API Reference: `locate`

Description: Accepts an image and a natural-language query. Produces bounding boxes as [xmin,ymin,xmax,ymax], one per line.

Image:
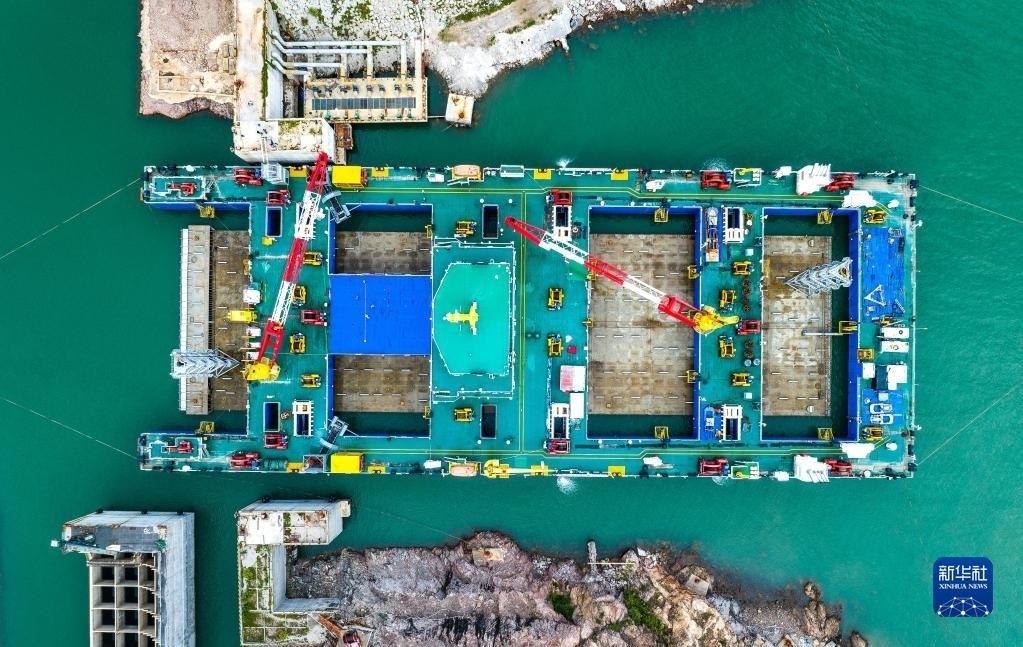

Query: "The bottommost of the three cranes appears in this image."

[483,455,555,478]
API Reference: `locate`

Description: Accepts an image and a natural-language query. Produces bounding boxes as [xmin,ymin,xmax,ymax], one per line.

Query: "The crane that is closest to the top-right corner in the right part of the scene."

[505,216,739,337]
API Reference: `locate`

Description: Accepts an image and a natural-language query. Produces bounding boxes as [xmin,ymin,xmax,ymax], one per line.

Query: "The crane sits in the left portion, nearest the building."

[241,151,331,386]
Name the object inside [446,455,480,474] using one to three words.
boat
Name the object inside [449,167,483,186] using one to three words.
boat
